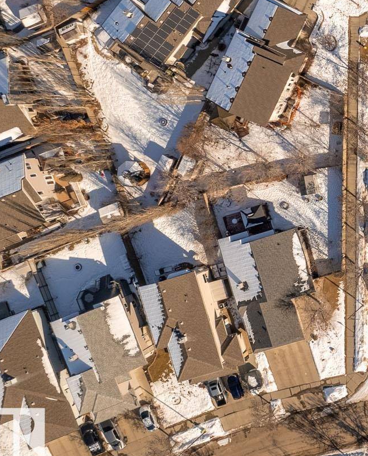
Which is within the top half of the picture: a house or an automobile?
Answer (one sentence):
You can see a house within the top half of the picture.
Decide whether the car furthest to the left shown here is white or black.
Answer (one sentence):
The car furthest to the left is black.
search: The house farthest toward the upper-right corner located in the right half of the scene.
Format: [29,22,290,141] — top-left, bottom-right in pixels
[207,0,314,127]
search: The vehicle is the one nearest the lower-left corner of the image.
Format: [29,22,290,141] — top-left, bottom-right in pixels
[75,422,105,456]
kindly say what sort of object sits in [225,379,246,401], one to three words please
car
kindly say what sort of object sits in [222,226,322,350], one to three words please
house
